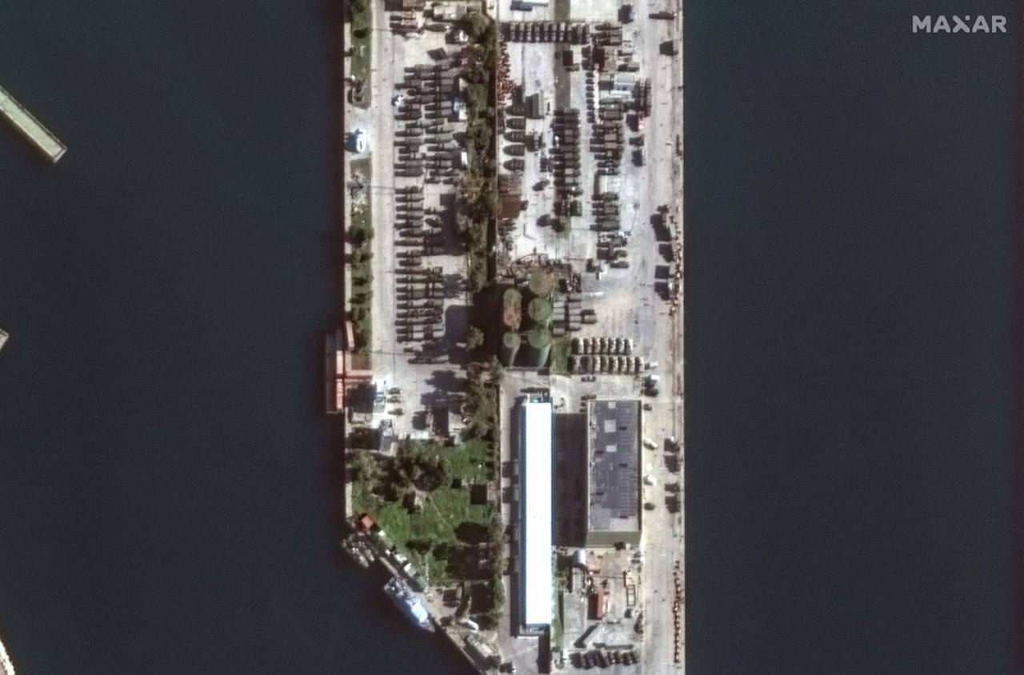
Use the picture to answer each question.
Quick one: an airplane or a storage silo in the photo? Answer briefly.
storage silo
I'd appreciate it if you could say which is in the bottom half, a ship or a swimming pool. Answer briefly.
ship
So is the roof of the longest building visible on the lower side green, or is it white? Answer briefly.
white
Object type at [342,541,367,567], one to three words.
boat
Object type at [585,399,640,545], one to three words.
building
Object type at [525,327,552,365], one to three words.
silo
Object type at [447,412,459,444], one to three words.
shed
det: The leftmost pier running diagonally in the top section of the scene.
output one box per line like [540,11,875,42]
[0,86,67,166]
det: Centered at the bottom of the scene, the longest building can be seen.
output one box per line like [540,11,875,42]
[518,393,554,635]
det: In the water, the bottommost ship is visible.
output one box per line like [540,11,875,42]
[380,583,436,636]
